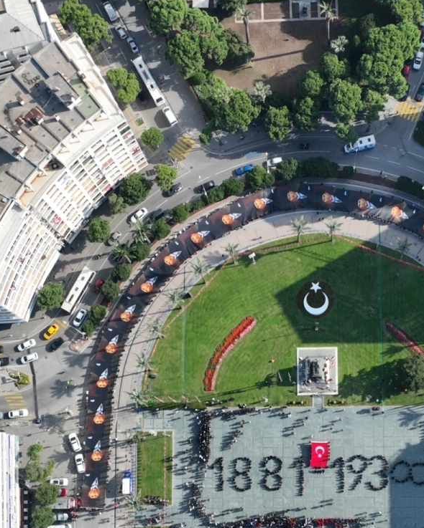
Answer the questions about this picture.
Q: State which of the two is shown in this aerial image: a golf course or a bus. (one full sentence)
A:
The image shows a bus.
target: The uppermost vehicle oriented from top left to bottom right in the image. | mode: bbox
[101,0,117,20]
